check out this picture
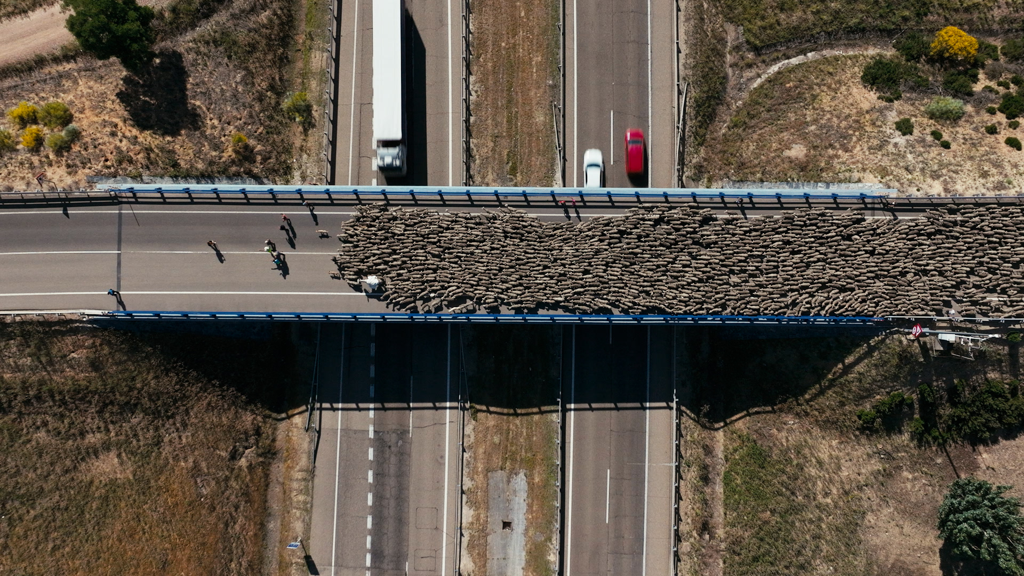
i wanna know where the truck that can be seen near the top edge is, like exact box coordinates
[373,0,407,177]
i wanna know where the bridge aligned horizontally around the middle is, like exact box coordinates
[97,182,903,327]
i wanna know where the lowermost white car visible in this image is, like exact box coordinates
[583,149,605,186]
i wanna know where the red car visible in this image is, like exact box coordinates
[624,128,646,173]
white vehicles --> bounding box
[373,0,407,177]
[583,149,605,186]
